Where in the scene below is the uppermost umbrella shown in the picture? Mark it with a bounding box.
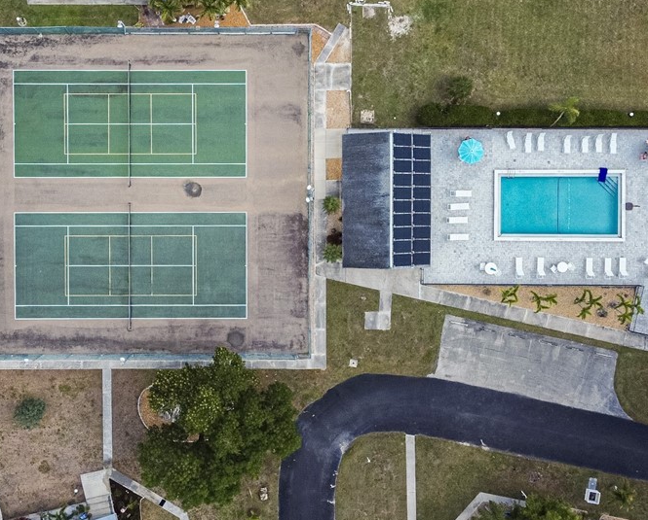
[457,139,483,164]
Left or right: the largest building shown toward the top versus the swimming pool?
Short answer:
left of it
